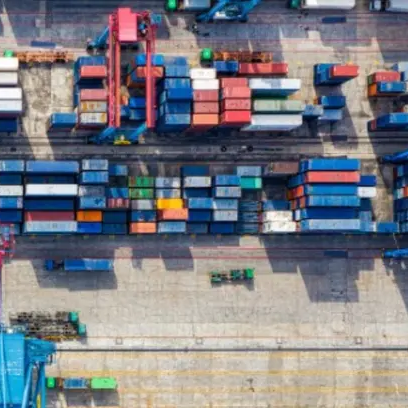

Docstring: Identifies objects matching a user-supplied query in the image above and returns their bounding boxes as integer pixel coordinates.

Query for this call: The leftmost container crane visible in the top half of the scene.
[80,7,156,148]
